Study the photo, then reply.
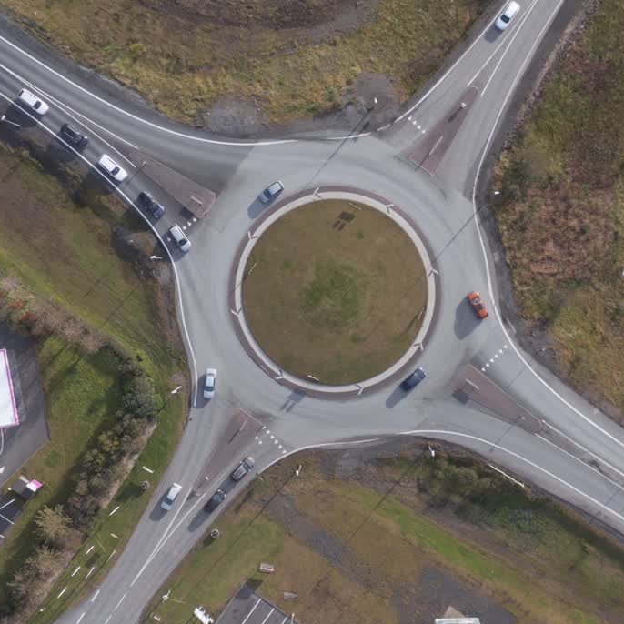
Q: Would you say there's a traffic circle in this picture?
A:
Yes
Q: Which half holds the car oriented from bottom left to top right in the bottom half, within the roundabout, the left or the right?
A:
right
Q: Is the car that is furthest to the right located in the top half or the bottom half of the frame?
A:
top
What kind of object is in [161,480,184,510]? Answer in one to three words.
car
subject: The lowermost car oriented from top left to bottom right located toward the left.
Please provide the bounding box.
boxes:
[168,223,193,252]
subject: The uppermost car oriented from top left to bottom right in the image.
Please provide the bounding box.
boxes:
[17,88,50,115]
